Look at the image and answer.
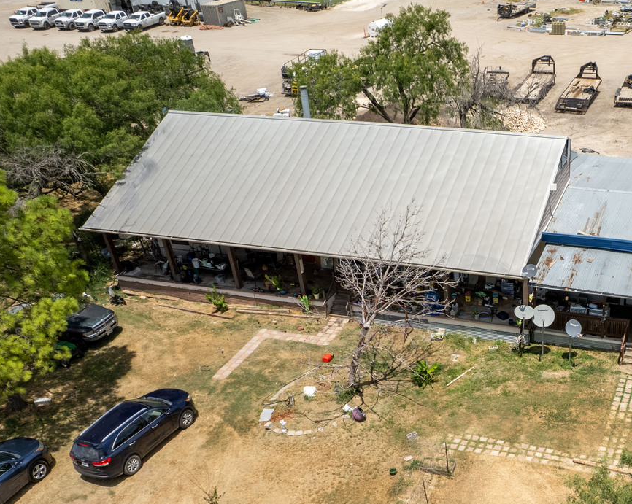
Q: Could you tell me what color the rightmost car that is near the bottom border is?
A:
black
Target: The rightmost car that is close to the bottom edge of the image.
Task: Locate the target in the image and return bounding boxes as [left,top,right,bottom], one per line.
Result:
[67,391,196,483]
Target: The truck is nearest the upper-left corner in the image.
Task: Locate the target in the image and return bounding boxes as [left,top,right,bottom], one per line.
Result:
[8,5,45,27]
